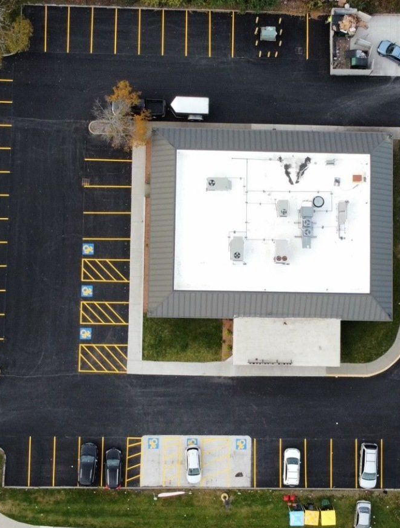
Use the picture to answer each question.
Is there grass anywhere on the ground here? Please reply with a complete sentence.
Yes, there is grass in the image.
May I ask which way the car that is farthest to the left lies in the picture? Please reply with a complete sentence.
The car that is farthest to the left is laid out vertically.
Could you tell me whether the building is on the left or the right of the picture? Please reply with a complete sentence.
The building is on the right side of the image.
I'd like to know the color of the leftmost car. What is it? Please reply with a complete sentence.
From above, the leftmost car appears black.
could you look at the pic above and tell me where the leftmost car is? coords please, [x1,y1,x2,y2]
[79,442,99,487]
